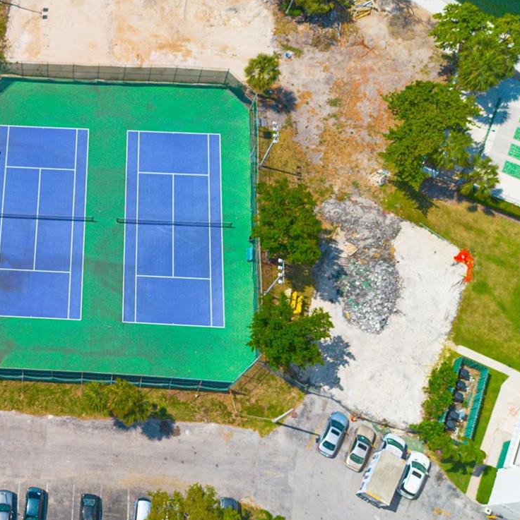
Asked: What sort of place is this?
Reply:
sports ground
